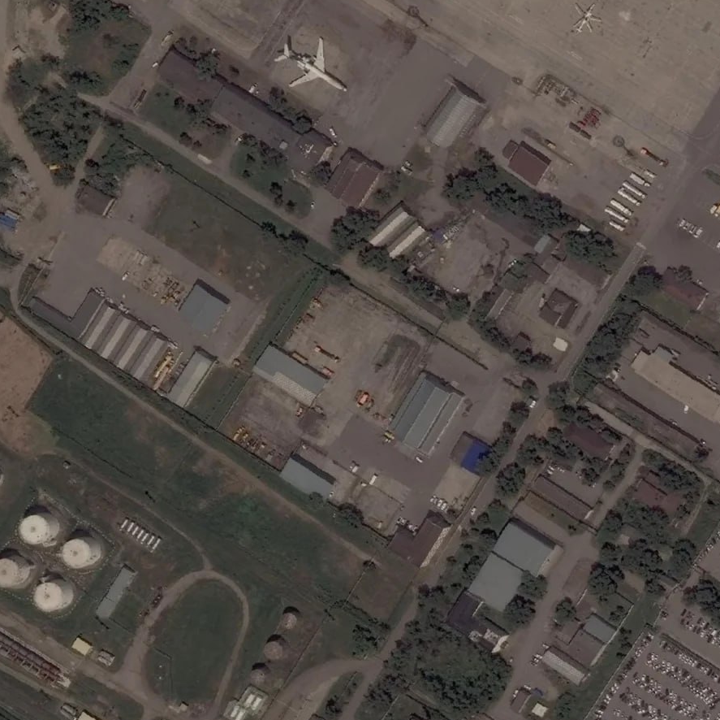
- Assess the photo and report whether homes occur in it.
Yes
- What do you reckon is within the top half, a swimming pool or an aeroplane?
aeroplane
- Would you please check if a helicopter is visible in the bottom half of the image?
No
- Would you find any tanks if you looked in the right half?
No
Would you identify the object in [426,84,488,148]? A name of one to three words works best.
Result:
hangar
